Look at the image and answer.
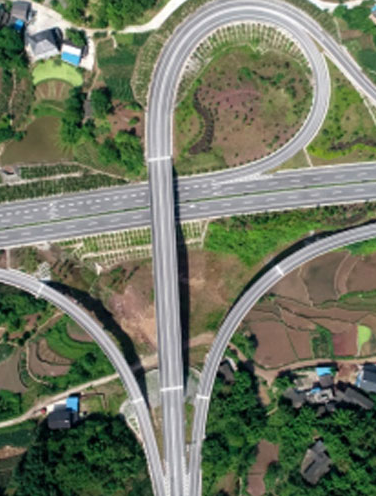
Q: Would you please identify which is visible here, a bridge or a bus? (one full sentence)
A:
The image shows a bridge.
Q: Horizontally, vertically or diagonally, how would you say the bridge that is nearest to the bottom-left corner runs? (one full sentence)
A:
What the image shows is the bridge that is nearest to the bottom-left corner lying diagonally.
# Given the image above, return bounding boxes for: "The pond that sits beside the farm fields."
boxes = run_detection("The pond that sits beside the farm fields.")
[1,115,71,165]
